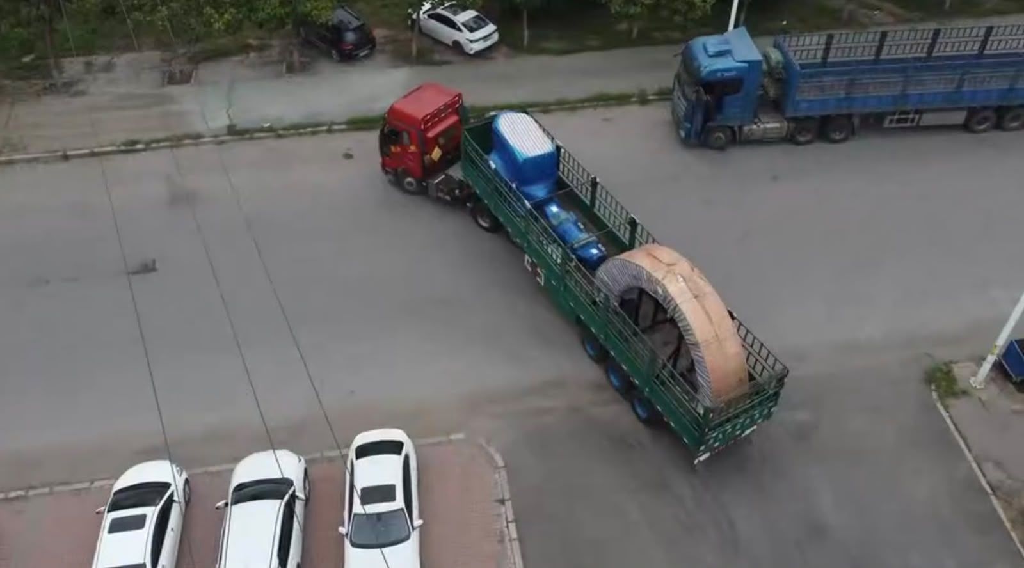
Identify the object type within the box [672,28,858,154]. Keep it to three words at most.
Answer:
truck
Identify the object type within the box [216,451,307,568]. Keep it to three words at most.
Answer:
car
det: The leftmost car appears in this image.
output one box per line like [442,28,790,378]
[90,460,191,568]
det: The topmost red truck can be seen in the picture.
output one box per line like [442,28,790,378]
[378,85,518,246]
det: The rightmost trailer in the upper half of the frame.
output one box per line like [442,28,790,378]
[770,25,1024,137]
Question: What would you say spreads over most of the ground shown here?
paved ground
